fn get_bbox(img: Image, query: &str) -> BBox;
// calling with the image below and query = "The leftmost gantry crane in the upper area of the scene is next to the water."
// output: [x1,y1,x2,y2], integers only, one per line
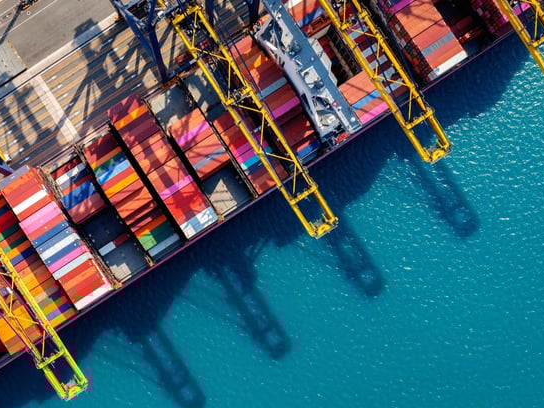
[104,0,338,239]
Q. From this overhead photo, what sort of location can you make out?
port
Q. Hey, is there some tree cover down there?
No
